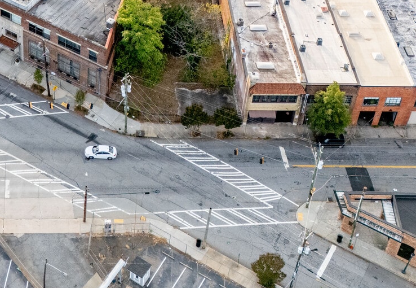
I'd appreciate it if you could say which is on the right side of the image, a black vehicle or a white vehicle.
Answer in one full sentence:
There is a black vehicle on the right side of the image.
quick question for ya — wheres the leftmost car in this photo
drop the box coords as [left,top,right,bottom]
[83,145,118,162]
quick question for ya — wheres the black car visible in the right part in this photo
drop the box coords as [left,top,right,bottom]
[312,131,351,149]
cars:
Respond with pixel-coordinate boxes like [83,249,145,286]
[312,131,351,149]
[83,145,118,162]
